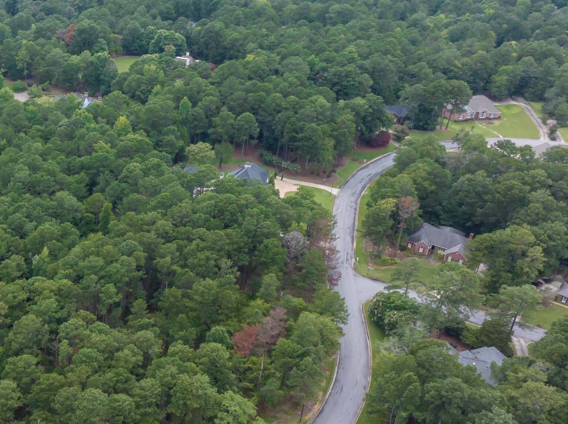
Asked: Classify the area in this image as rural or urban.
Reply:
rural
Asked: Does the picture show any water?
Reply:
No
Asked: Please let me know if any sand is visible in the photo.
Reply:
No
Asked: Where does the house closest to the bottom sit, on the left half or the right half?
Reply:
right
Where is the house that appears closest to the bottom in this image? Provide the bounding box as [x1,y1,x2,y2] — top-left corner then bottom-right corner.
[445,342,508,391]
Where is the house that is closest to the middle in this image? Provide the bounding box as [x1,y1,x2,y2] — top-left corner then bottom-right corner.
[221,164,270,195]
